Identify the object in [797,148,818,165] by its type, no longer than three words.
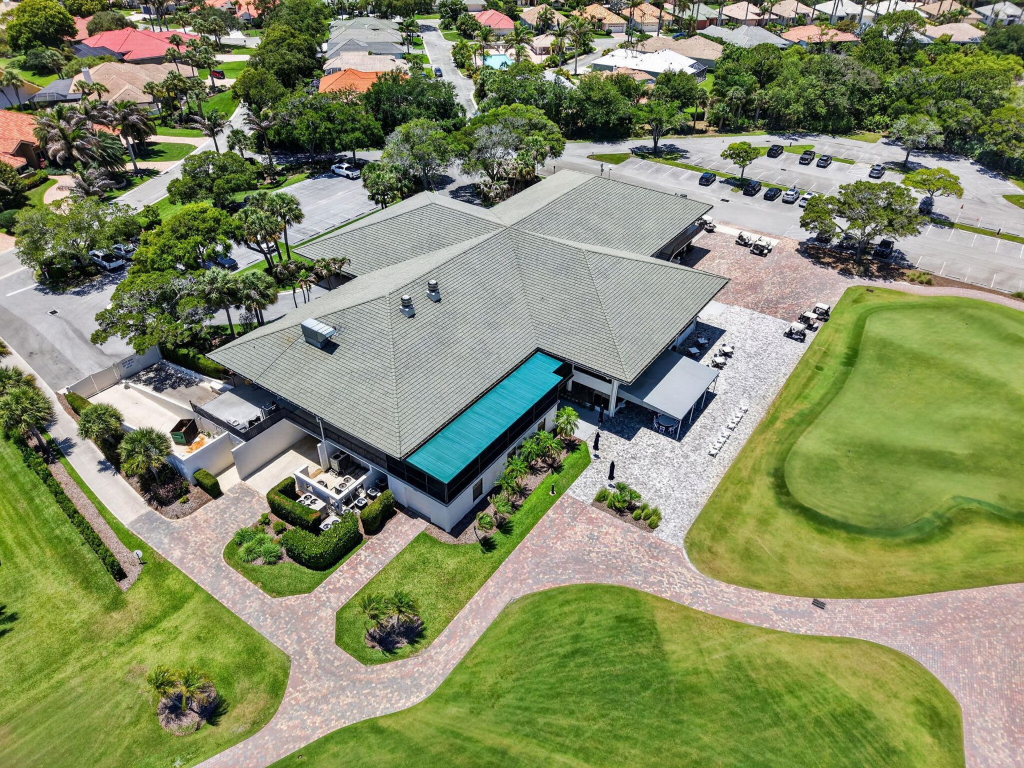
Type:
vehicle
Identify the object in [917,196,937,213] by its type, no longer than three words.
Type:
car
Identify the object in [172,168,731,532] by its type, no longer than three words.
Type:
building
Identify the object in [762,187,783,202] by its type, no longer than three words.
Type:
car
